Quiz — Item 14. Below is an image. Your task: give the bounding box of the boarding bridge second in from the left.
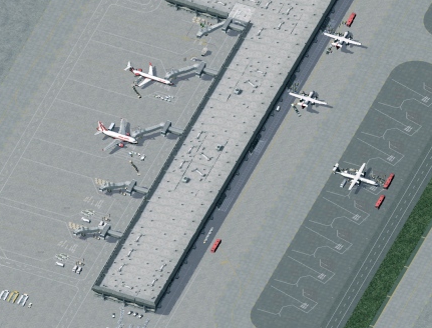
[98,180,149,201]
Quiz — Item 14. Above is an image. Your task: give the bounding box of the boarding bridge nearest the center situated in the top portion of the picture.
[130,121,183,142]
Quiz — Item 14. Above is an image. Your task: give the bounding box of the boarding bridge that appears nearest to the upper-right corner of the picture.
[196,16,246,40]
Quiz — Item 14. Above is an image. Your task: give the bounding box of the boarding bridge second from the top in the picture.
[164,61,215,82]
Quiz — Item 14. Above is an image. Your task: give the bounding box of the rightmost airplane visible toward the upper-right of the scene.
[323,32,358,55]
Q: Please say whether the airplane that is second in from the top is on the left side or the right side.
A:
left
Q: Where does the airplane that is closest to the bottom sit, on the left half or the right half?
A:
right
